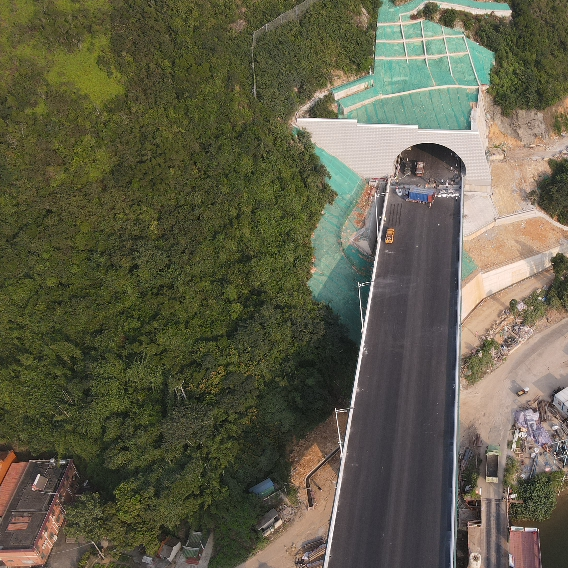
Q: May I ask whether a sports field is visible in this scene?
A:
No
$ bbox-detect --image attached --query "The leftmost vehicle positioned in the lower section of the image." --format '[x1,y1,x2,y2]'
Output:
[487,441,500,483]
